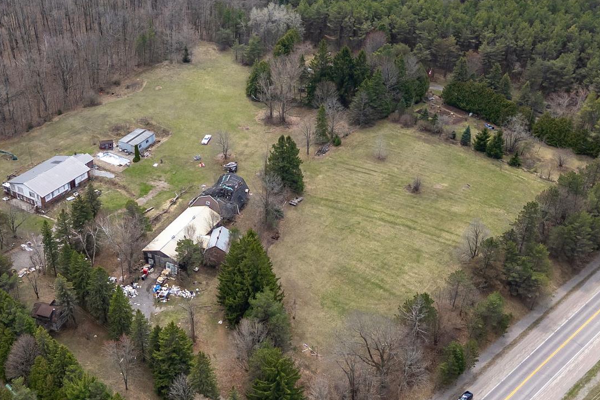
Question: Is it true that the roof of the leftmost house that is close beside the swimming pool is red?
No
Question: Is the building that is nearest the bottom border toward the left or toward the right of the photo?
left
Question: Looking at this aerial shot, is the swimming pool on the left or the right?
left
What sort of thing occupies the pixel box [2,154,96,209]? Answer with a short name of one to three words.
house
